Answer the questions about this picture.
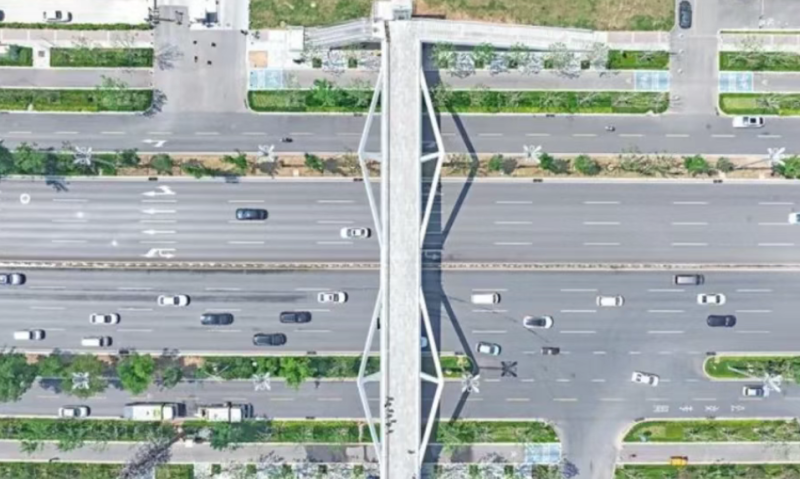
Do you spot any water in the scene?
No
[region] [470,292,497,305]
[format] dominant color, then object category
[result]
white vehicle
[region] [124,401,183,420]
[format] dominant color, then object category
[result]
white vehicle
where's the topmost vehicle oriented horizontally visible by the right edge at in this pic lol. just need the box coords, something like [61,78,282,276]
[731,116,762,128]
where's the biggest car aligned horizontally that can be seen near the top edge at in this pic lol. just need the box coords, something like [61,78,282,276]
[41,9,70,23]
